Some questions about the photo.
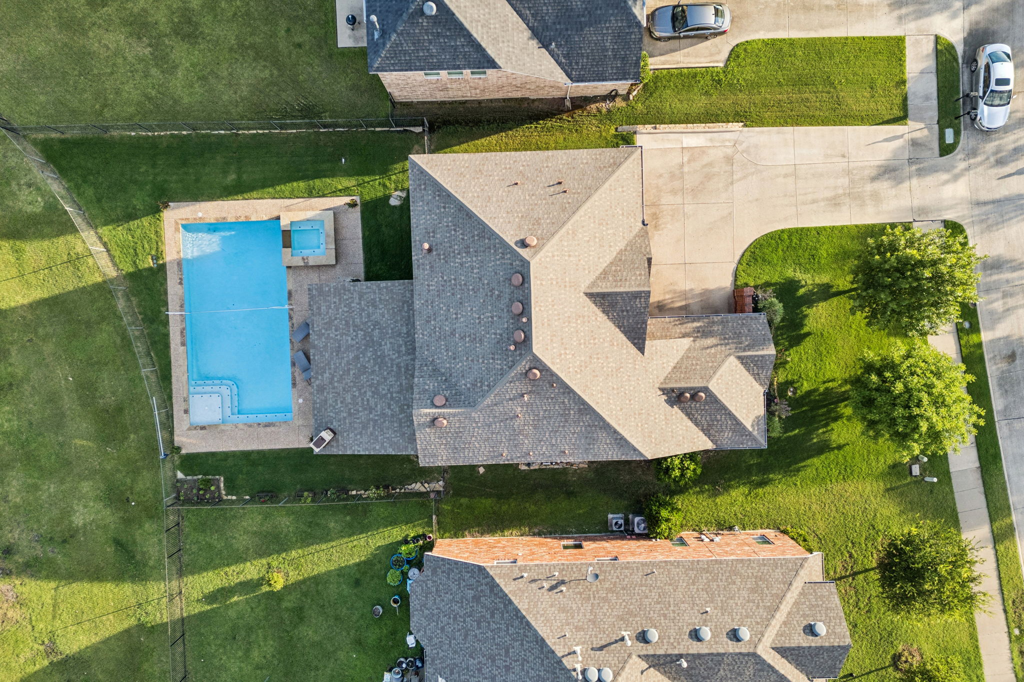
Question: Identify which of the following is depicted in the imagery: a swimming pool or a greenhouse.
swimming pool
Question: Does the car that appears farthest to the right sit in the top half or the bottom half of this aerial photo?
top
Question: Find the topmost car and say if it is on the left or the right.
right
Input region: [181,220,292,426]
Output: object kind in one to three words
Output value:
swimming pool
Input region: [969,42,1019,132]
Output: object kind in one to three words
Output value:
car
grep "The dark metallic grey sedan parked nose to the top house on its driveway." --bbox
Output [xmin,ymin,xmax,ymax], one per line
[647,0,734,45]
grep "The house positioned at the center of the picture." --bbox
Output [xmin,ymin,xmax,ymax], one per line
[407,142,776,466]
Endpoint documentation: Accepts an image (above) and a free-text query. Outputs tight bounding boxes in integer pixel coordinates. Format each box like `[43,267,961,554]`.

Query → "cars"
[647,0,734,45]
[969,42,1019,132]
